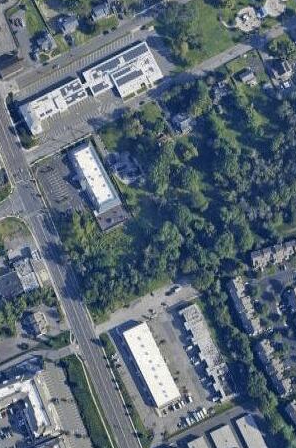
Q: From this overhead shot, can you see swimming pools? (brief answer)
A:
No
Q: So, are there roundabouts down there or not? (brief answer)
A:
No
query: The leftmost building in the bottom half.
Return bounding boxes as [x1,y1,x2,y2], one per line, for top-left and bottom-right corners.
[0,271,24,300]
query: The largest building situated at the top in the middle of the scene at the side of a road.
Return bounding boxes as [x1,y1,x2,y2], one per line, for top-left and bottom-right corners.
[83,42,164,101]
